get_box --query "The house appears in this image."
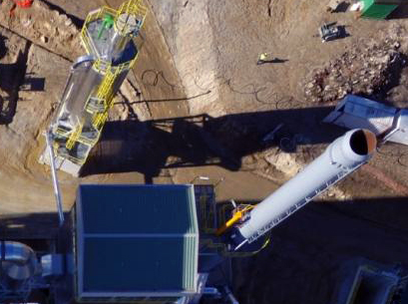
[33,184,207,304]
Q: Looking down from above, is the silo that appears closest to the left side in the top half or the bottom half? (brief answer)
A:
top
